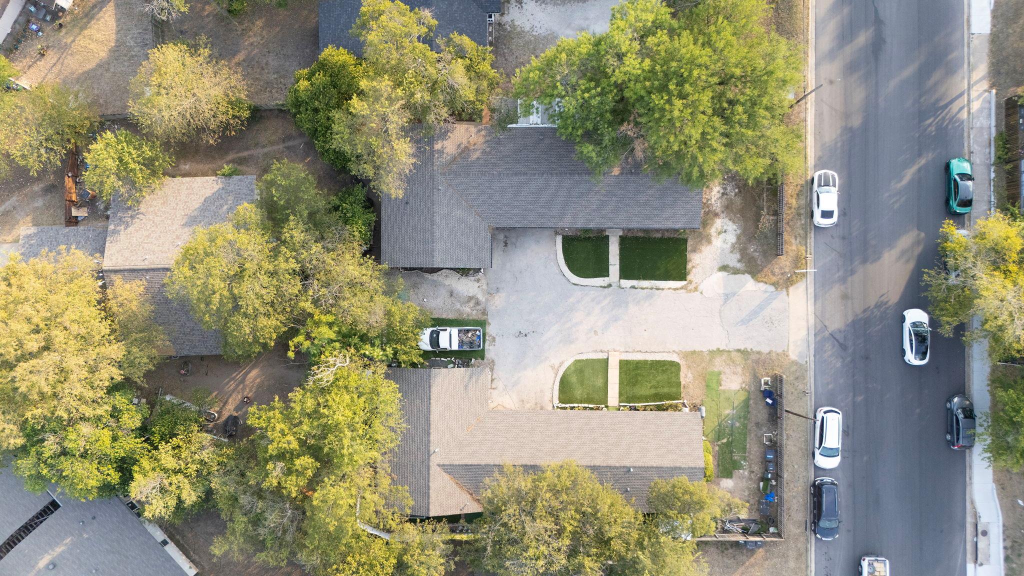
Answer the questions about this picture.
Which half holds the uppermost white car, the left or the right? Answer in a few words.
right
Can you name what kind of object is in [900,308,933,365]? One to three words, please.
car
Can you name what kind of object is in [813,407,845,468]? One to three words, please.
car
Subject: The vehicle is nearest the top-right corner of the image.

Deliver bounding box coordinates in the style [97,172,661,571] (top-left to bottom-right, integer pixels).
[943,157,976,214]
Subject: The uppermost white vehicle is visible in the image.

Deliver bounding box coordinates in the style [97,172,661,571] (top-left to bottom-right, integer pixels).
[811,169,842,227]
